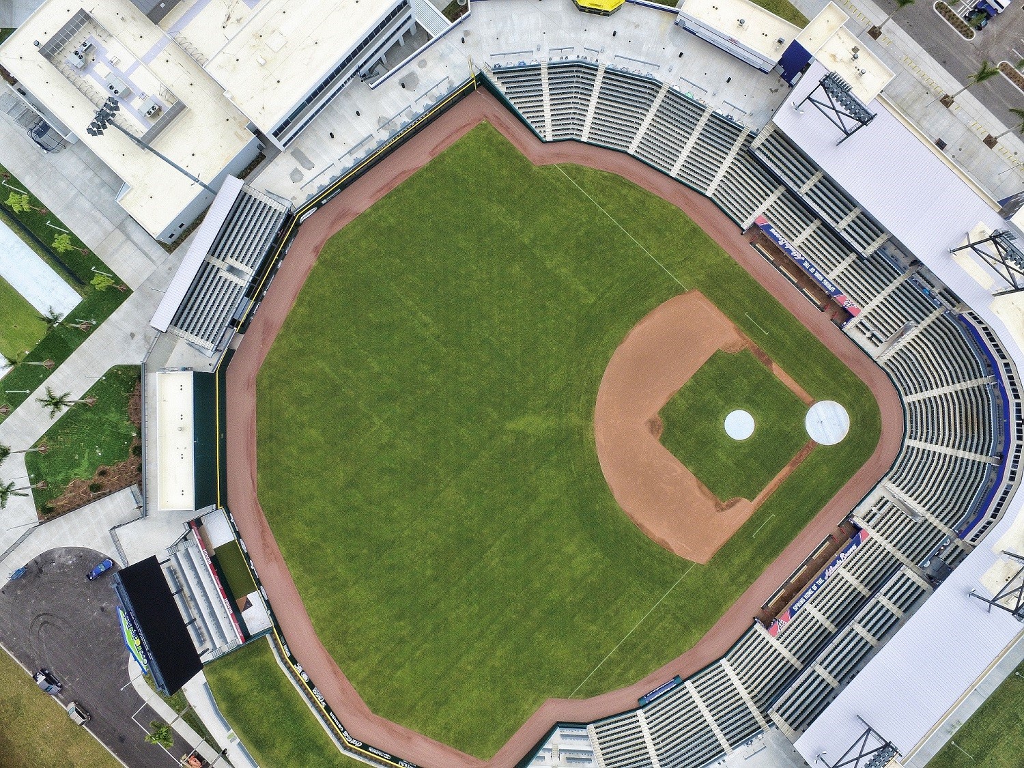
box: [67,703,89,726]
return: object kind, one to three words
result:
car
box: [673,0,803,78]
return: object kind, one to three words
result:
building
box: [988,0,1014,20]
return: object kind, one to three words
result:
vehicle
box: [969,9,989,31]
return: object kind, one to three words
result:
car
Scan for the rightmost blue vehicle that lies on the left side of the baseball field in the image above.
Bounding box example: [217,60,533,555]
[85,559,112,582]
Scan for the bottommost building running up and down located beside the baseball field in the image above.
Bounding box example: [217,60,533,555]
[158,371,217,511]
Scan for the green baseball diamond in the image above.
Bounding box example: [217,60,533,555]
[220,89,904,768]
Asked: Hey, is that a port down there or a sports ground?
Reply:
sports ground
